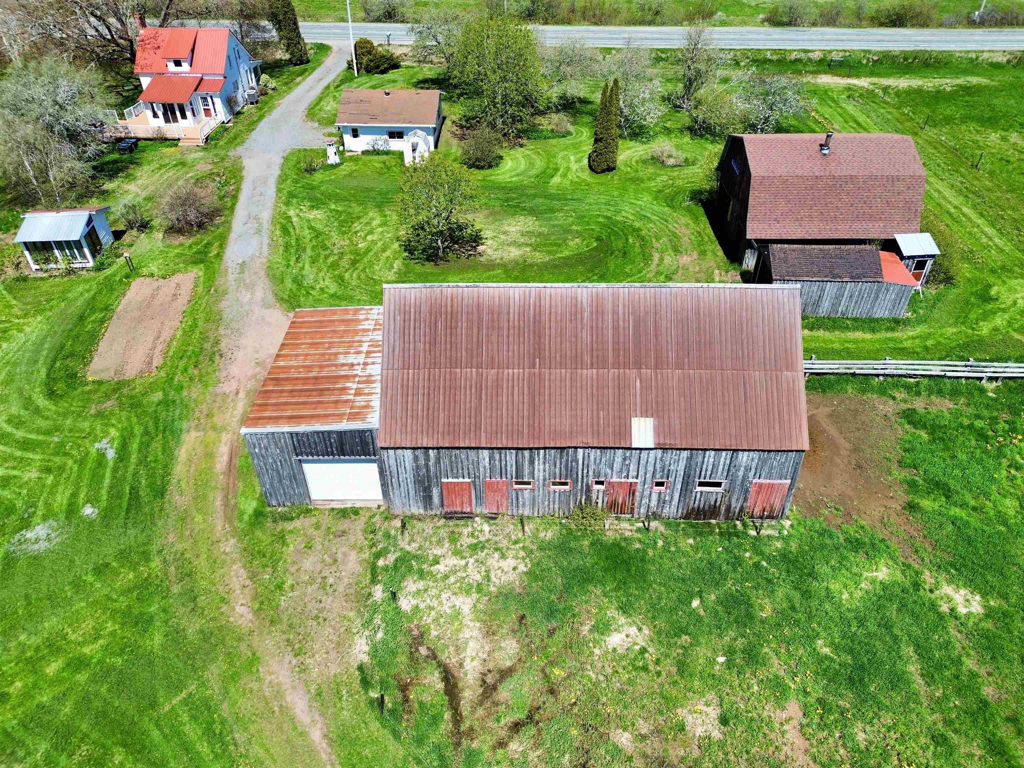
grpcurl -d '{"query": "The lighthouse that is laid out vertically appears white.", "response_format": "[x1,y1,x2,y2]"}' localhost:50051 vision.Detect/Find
[327,139,340,165]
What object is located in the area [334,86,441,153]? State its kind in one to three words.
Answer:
house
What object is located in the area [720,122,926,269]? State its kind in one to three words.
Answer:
barn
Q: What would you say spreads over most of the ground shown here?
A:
grass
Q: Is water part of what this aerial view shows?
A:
No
